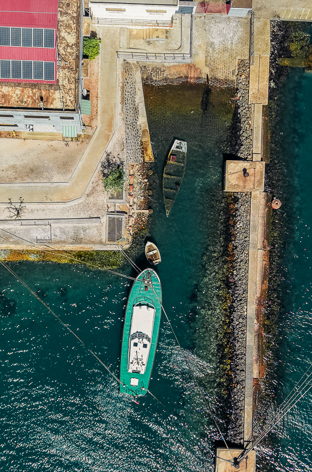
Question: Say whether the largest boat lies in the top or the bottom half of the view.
bottom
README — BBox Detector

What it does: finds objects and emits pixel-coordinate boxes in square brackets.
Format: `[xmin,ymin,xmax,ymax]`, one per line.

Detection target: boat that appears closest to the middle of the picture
[144,241,160,265]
